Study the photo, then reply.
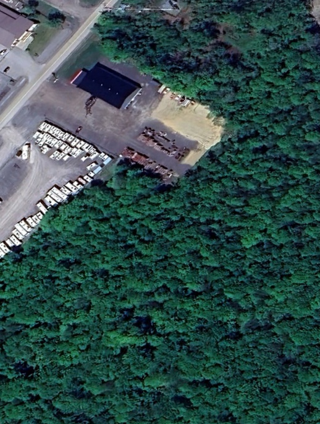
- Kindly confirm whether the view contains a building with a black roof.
Yes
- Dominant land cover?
trees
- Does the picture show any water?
No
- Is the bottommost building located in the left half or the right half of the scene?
left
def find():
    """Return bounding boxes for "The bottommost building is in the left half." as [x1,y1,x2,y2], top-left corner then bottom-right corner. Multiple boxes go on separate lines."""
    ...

[70,57,146,113]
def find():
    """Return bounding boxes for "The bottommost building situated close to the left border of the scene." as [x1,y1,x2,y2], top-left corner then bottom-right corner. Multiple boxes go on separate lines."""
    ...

[0,5,39,51]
